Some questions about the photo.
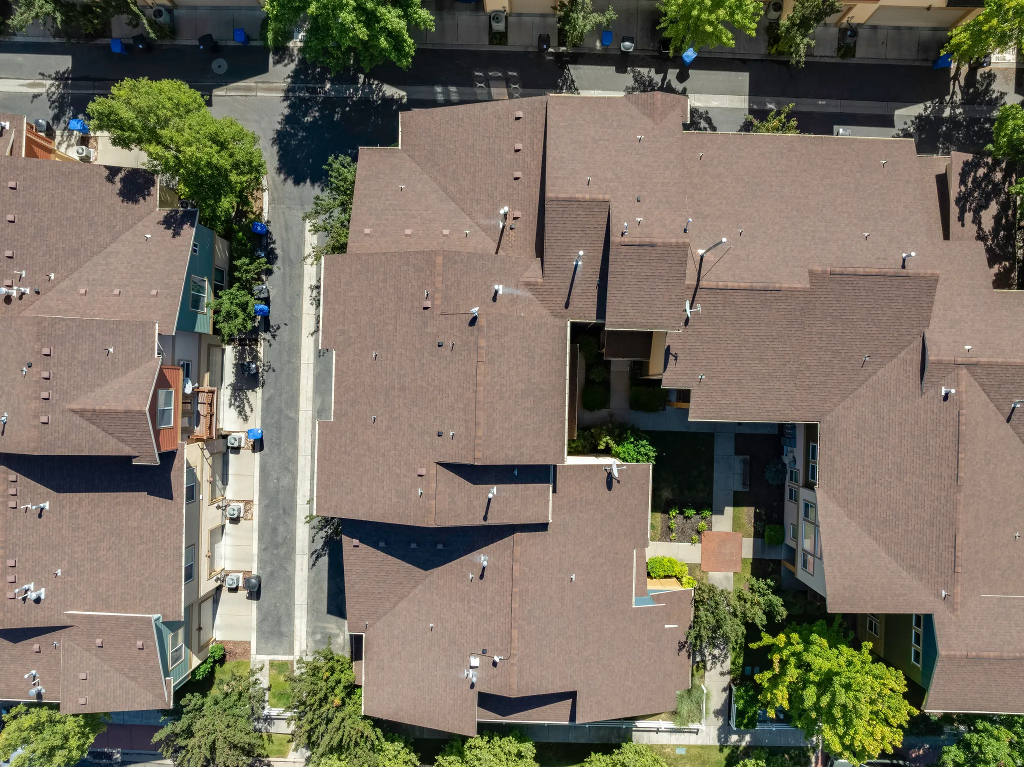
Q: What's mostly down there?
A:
buildings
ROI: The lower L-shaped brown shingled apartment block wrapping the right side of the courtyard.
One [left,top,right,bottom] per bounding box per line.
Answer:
[637,129,1024,715]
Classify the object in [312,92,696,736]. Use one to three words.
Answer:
building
